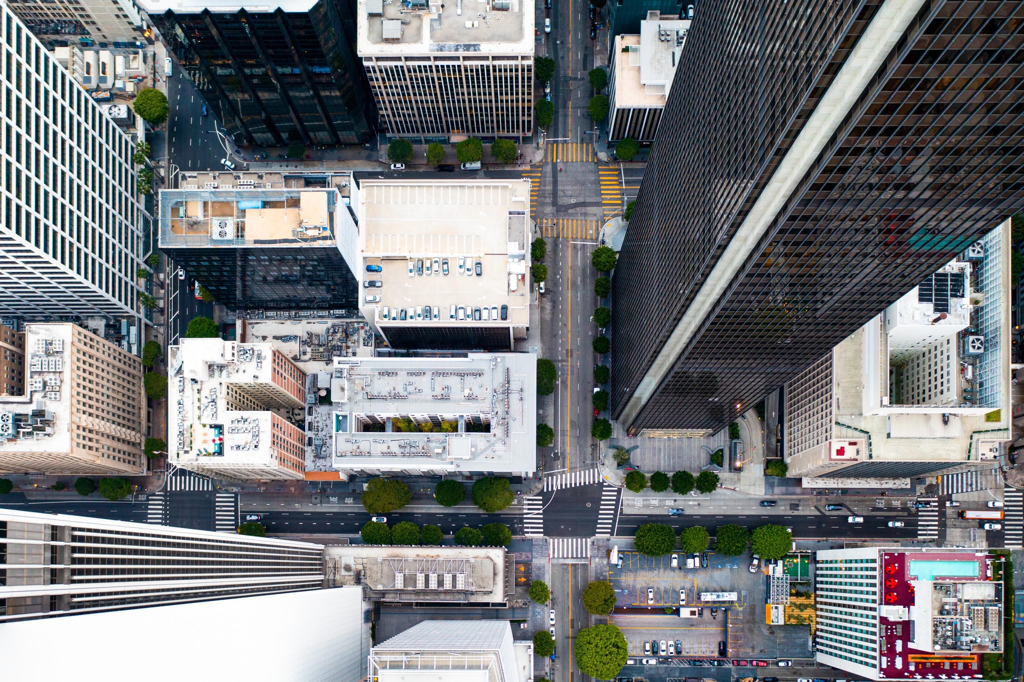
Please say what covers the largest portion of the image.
buildings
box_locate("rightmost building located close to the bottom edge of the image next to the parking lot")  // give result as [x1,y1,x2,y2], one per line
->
[819,543,1011,680]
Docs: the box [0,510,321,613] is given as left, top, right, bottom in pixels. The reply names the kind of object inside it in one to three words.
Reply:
building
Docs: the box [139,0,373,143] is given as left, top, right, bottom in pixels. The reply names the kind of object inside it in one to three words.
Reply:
building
